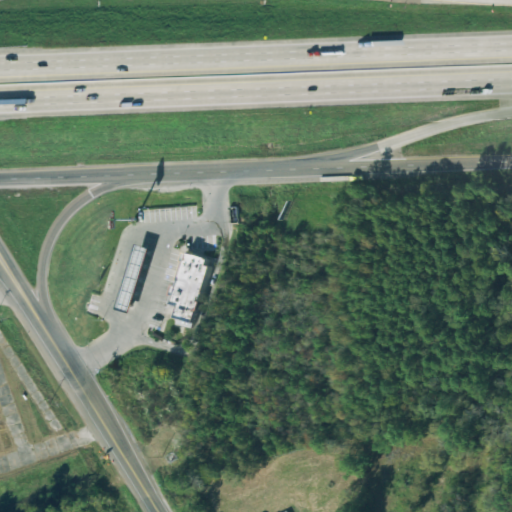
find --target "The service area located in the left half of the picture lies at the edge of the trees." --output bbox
[72,186,234,372]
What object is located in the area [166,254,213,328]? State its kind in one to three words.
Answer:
building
